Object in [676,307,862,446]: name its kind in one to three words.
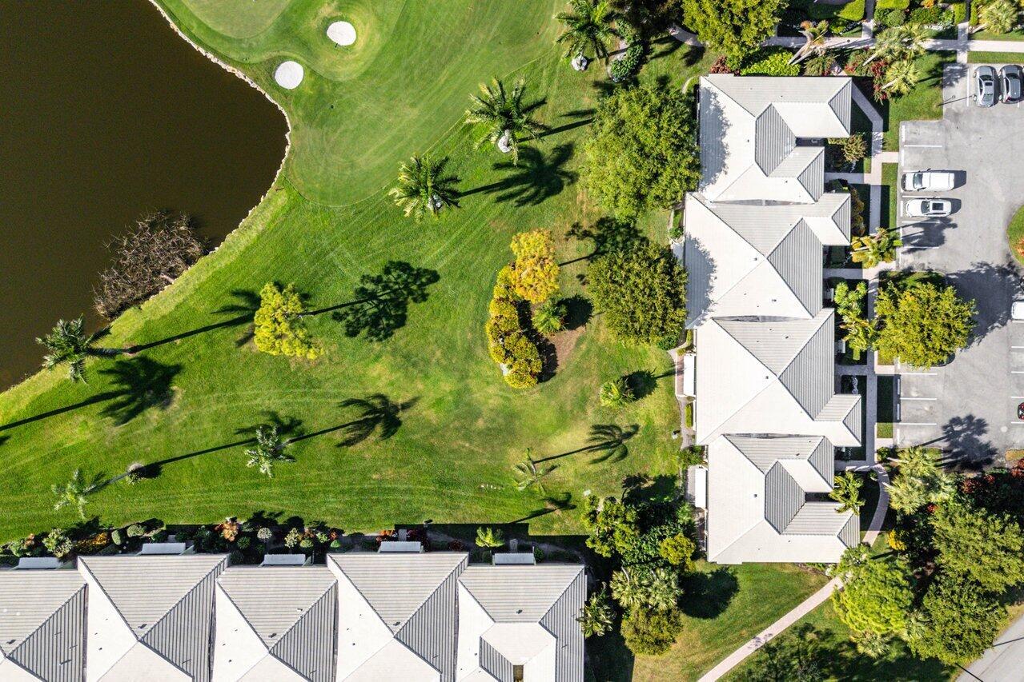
house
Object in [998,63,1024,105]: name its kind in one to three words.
car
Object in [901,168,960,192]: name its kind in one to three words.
vehicle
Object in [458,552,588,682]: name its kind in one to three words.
house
